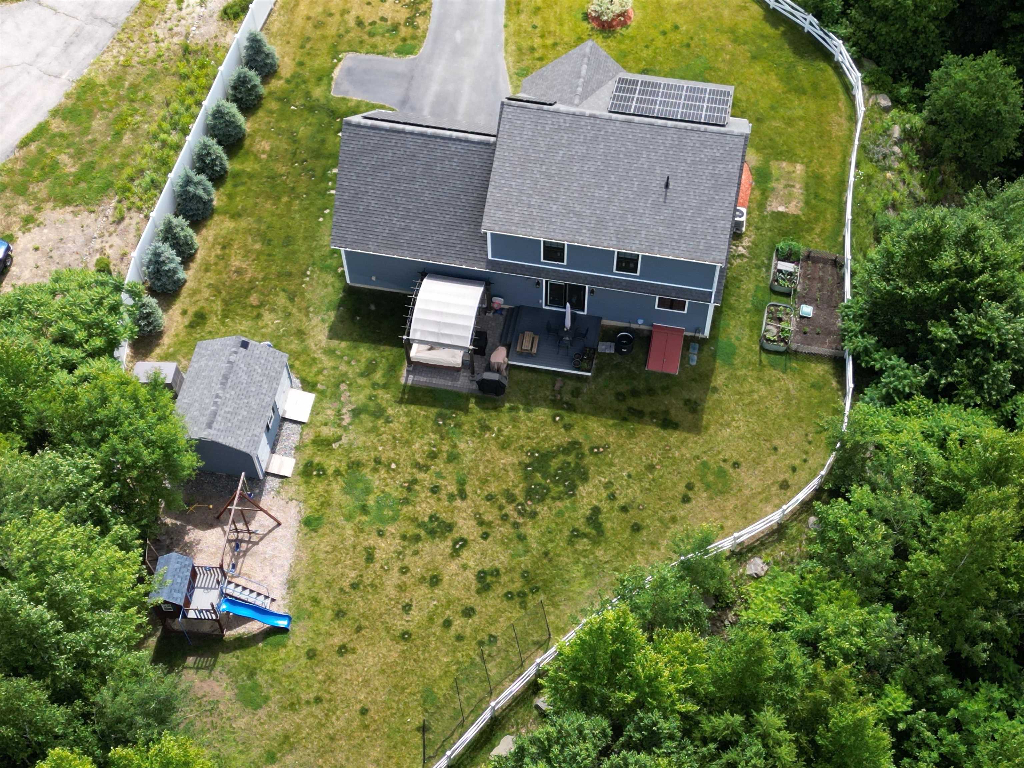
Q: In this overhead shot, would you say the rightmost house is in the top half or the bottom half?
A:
top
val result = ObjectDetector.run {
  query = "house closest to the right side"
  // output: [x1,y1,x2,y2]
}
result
[329,36,748,344]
